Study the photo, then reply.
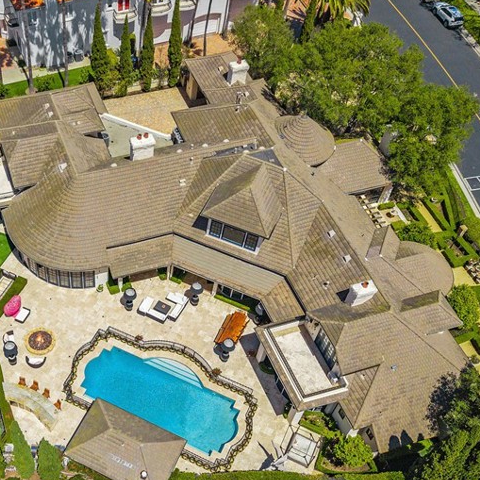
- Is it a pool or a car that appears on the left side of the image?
pool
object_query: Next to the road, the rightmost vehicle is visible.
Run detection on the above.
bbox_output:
[435,1,466,27]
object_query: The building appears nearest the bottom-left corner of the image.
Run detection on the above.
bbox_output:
[62,396,188,480]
